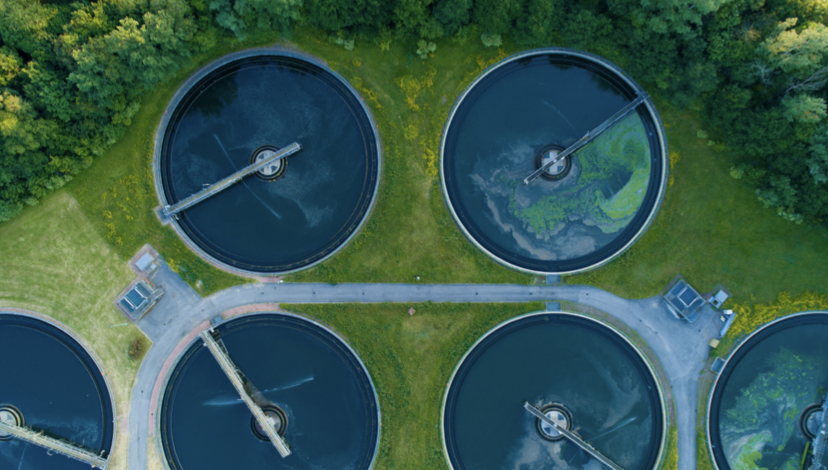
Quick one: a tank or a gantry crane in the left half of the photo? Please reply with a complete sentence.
Looking in the left half of the photo, you will find a tank.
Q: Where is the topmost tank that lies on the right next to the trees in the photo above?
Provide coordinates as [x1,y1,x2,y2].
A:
[440,47,669,276]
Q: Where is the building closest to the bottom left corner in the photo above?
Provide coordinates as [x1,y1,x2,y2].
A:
[117,282,163,319]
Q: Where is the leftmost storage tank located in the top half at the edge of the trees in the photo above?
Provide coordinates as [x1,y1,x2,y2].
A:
[154,47,383,276]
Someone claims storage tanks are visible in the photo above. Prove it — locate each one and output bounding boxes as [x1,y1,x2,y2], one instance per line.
[440,47,669,276]
[154,308,383,470]
[703,308,828,470]
[0,308,120,470]
[154,47,383,276]
[440,308,669,470]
